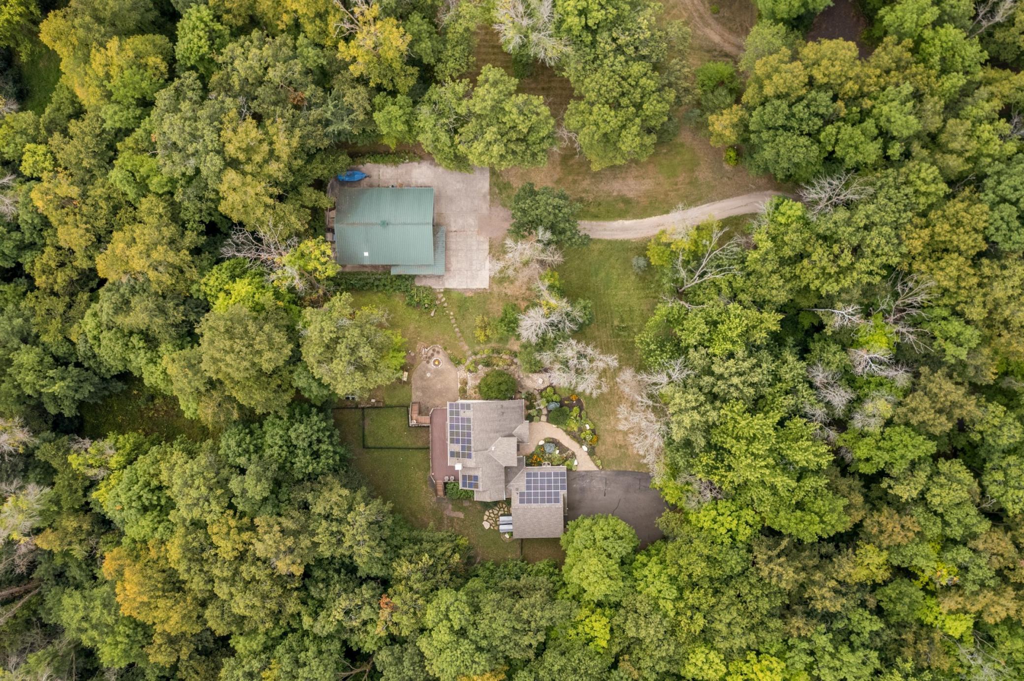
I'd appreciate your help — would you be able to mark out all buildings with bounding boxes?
[334,187,446,275]
[447,399,568,539]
